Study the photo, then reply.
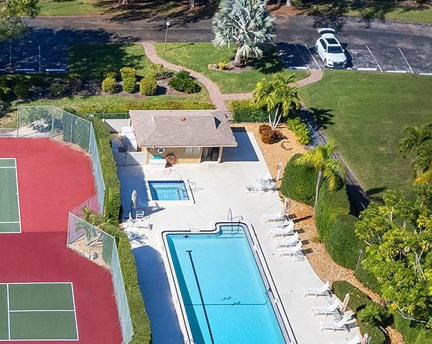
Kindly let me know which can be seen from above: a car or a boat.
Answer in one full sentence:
The one in the frame is a car.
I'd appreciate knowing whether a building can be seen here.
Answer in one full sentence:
Yes, you can see a building in this photo.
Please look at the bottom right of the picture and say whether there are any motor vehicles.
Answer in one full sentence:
No, no motor vehicle appears at the bottom right of the picture.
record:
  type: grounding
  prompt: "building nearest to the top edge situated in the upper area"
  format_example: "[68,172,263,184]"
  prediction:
[129,110,237,163]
